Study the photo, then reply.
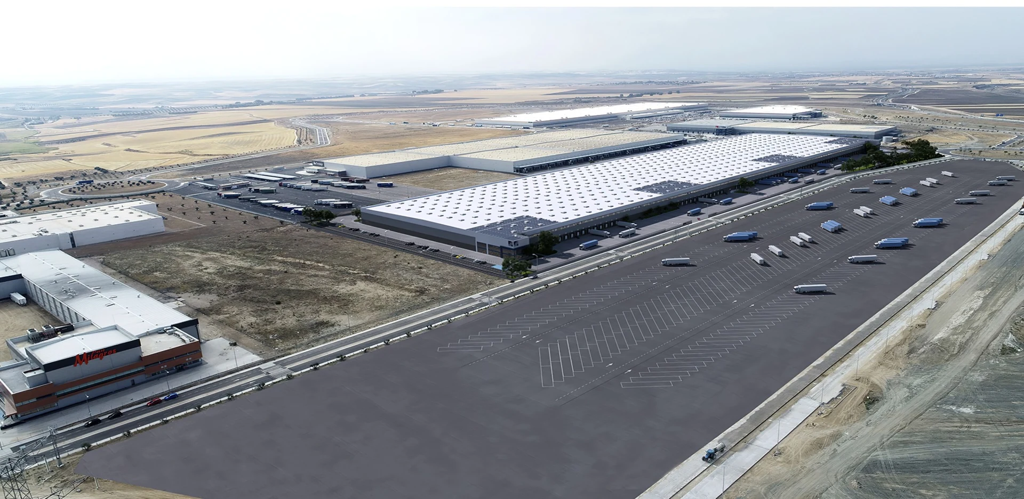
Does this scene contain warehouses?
Yes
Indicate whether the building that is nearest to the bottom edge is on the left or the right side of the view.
left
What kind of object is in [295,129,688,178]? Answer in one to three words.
building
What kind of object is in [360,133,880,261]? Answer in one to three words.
warehouse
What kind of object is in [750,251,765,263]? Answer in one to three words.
vehicle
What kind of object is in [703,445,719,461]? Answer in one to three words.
work vehicle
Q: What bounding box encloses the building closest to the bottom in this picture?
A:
[0,250,202,432]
